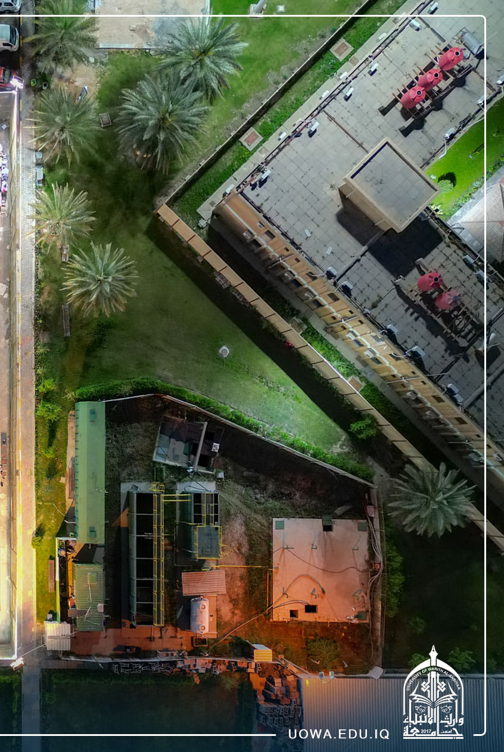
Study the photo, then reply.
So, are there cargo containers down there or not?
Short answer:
Yes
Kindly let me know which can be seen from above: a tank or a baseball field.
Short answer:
tank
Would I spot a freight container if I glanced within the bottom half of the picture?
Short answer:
Yes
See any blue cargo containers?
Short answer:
No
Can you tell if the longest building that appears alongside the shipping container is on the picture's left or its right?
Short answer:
left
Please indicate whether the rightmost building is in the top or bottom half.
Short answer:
top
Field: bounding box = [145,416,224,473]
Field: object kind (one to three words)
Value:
shed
